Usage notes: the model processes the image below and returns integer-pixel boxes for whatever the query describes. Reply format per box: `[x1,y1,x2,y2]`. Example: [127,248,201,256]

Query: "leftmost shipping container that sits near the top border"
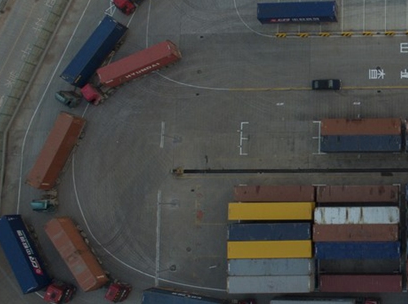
[59,13,126,90]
